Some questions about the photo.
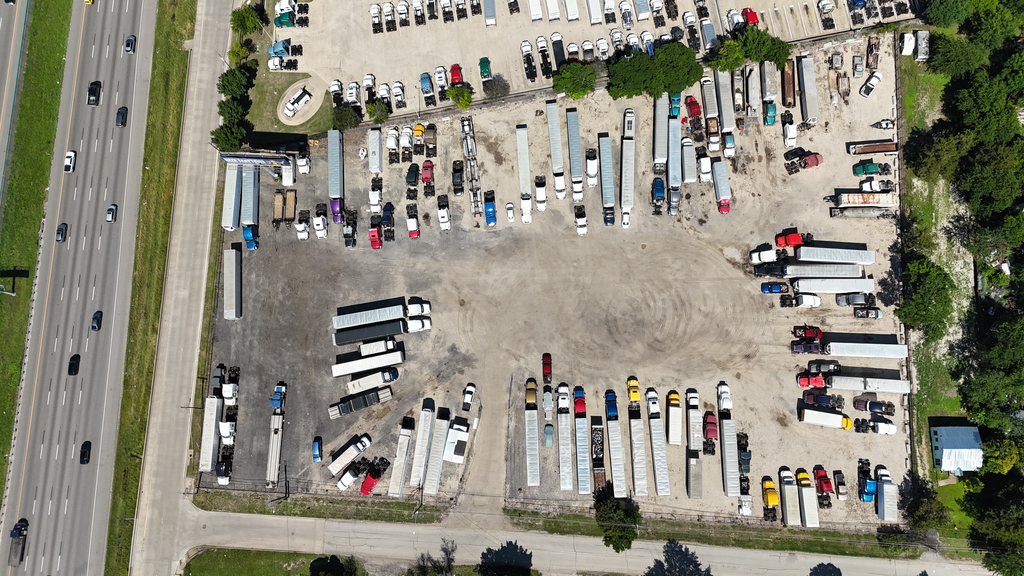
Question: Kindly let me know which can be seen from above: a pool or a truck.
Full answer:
Visible in the photo is a truck.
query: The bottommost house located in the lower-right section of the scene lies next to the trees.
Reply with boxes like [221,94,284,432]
[930,426,983,481]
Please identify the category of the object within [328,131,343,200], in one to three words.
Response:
trailer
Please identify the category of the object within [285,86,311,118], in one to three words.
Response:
truck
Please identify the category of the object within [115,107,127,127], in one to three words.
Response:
vehicle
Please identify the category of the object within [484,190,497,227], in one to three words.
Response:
vehicle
